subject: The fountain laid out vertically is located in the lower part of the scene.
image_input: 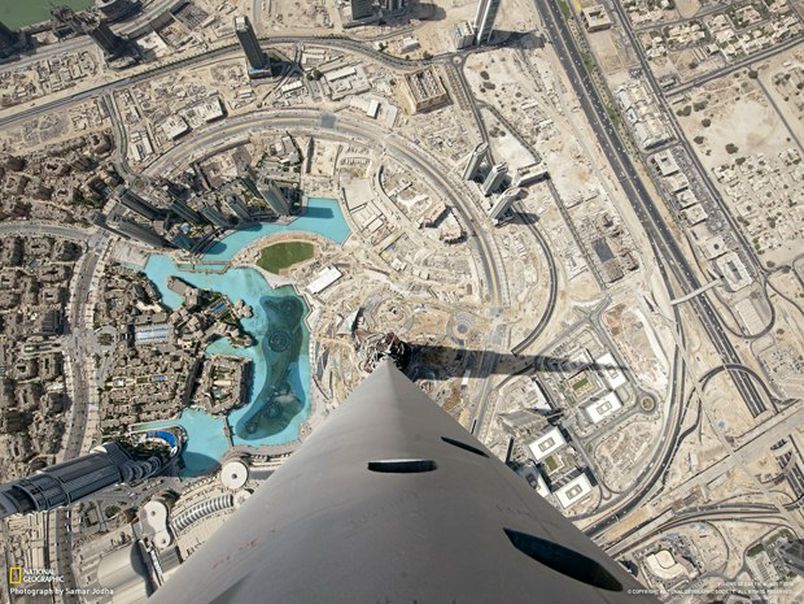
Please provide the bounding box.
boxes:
[236,289,304,440]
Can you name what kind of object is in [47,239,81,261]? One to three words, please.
building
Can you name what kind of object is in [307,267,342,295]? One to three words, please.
shed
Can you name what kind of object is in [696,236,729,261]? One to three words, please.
building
